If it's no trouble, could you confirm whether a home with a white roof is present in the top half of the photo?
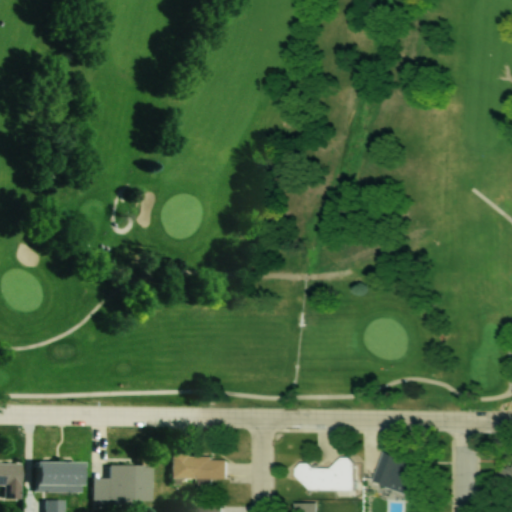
No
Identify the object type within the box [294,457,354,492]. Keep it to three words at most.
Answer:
house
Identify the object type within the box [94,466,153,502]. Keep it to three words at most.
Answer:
house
